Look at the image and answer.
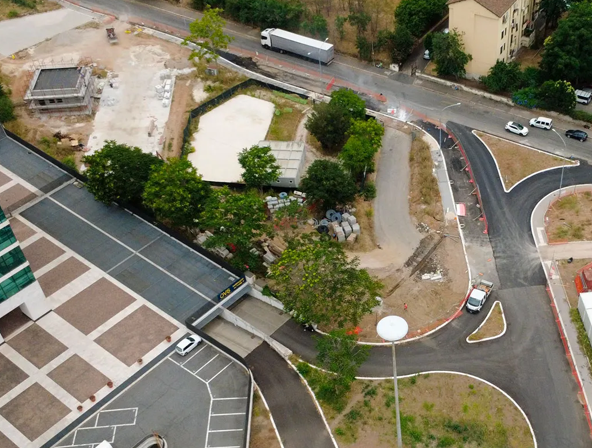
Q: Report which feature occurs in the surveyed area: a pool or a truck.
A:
truck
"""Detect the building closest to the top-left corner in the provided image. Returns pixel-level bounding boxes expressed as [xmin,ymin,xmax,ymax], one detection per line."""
[15,56,102,117]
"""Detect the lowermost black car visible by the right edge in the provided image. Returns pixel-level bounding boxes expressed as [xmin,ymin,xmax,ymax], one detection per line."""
[566,129,588,142]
